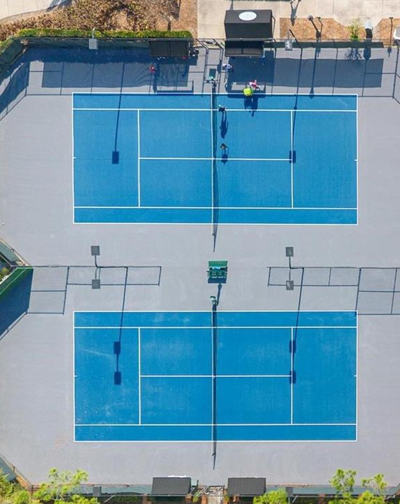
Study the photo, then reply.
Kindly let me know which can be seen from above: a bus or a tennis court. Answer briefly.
tennis court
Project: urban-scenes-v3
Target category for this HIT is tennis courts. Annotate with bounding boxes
[73,92,358,225]
[74,311,357,442]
